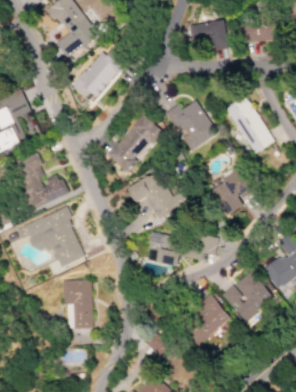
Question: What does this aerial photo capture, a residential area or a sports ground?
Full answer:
The area seen from above is a residential area.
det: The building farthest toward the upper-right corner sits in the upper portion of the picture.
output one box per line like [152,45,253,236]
[245,26,276,42]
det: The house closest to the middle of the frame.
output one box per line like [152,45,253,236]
[130,172,183,215]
